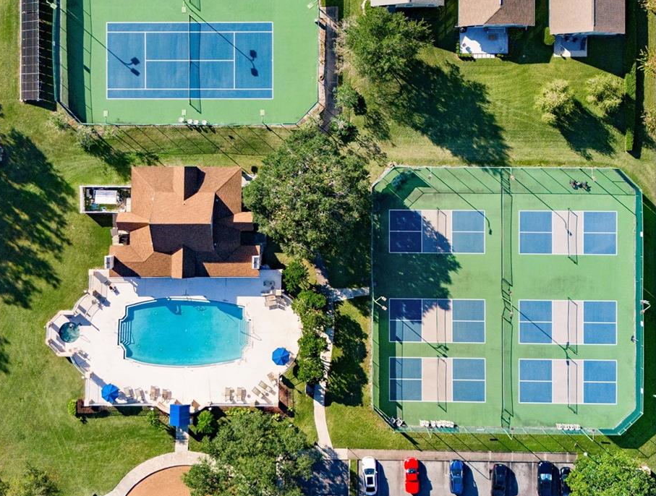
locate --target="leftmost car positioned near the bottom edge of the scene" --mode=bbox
[361,456,378,495]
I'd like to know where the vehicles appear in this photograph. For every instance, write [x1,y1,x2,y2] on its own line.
[403,458,420,495]
[537,462,554,496]
[448,460,465,495]
[559,468,572,496]
[491,464,508,496]
[361,456,378,495]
